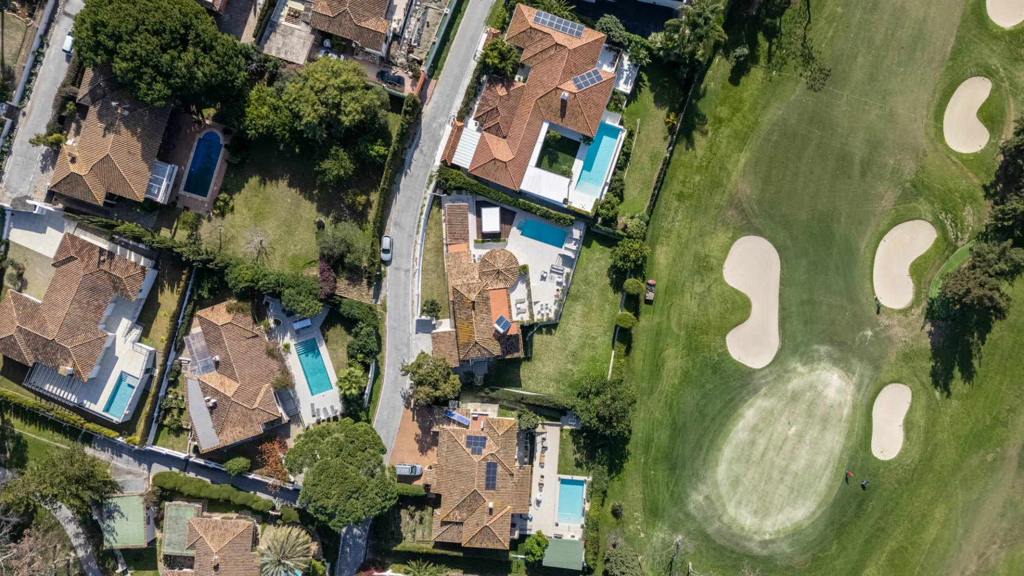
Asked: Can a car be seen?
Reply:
Yes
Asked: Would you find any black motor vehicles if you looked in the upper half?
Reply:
Yes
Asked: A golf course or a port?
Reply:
golf course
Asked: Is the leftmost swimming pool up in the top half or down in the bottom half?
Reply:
bottom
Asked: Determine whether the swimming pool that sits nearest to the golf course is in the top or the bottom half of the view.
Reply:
bottom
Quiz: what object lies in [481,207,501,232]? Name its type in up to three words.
building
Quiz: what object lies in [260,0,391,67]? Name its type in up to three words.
house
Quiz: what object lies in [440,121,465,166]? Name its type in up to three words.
building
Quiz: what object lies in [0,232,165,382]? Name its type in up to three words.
house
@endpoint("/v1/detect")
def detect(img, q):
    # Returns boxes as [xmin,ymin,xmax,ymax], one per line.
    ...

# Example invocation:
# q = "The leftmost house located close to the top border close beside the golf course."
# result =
[467,2,616,190]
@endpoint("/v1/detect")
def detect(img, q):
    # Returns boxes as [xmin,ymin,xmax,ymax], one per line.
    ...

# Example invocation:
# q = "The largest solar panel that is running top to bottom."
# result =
[485,462,497,490]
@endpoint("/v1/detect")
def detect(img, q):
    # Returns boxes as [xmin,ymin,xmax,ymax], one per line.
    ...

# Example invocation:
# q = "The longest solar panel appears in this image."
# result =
[533,10,585,38]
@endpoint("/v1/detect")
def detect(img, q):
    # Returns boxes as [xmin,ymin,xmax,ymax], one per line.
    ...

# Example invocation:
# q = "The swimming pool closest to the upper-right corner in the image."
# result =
[573,120,622,199]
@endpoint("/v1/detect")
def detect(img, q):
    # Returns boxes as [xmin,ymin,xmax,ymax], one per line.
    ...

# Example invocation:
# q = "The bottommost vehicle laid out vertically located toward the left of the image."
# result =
[381,236,393,262]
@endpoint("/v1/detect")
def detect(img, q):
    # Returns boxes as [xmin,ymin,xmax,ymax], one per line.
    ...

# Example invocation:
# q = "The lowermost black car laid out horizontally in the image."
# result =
[377,72,405,88]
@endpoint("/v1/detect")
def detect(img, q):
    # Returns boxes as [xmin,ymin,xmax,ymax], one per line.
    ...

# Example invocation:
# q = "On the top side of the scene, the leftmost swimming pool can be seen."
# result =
[179,128,225,201]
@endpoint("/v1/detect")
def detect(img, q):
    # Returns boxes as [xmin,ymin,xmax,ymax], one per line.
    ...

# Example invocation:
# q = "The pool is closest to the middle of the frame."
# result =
[515,218,570,250]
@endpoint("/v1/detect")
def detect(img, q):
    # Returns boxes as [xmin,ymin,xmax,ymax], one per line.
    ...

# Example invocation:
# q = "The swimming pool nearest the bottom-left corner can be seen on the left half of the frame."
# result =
[101,369,143,420]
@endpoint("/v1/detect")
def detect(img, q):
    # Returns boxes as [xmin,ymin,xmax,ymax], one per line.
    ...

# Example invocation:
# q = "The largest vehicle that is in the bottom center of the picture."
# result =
[396,462,423,475]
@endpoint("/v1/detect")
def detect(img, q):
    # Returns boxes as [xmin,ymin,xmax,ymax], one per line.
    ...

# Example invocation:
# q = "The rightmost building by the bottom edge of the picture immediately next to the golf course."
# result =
[543,536,586,570]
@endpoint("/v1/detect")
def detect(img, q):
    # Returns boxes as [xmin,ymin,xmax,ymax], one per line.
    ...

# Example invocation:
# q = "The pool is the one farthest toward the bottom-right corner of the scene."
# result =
[555,476,587,527]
